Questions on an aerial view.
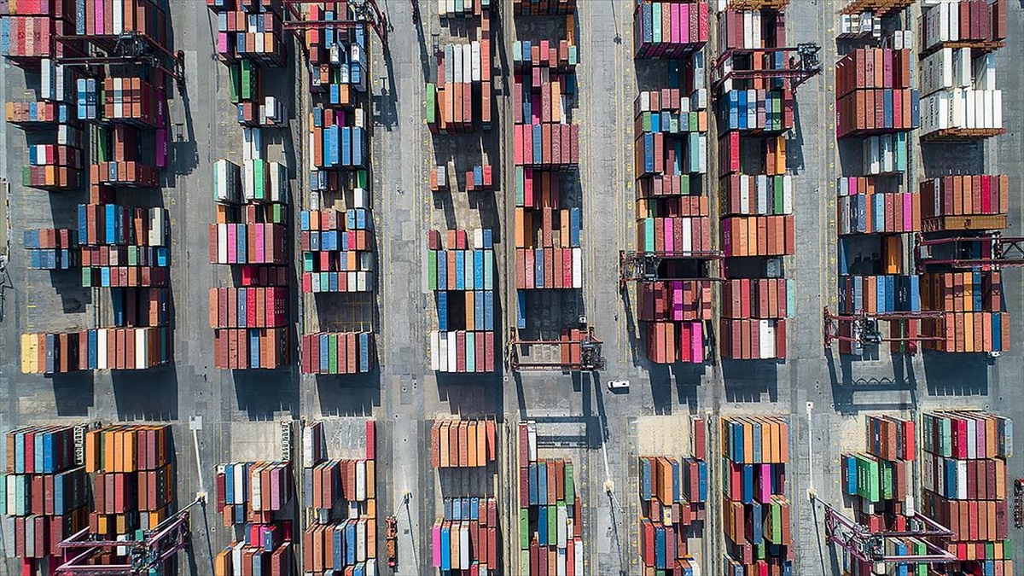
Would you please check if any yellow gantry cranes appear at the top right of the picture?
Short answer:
No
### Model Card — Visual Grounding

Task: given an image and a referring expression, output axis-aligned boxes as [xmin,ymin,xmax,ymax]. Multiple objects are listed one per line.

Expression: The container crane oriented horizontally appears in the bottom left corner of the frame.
[59,510,189,574]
